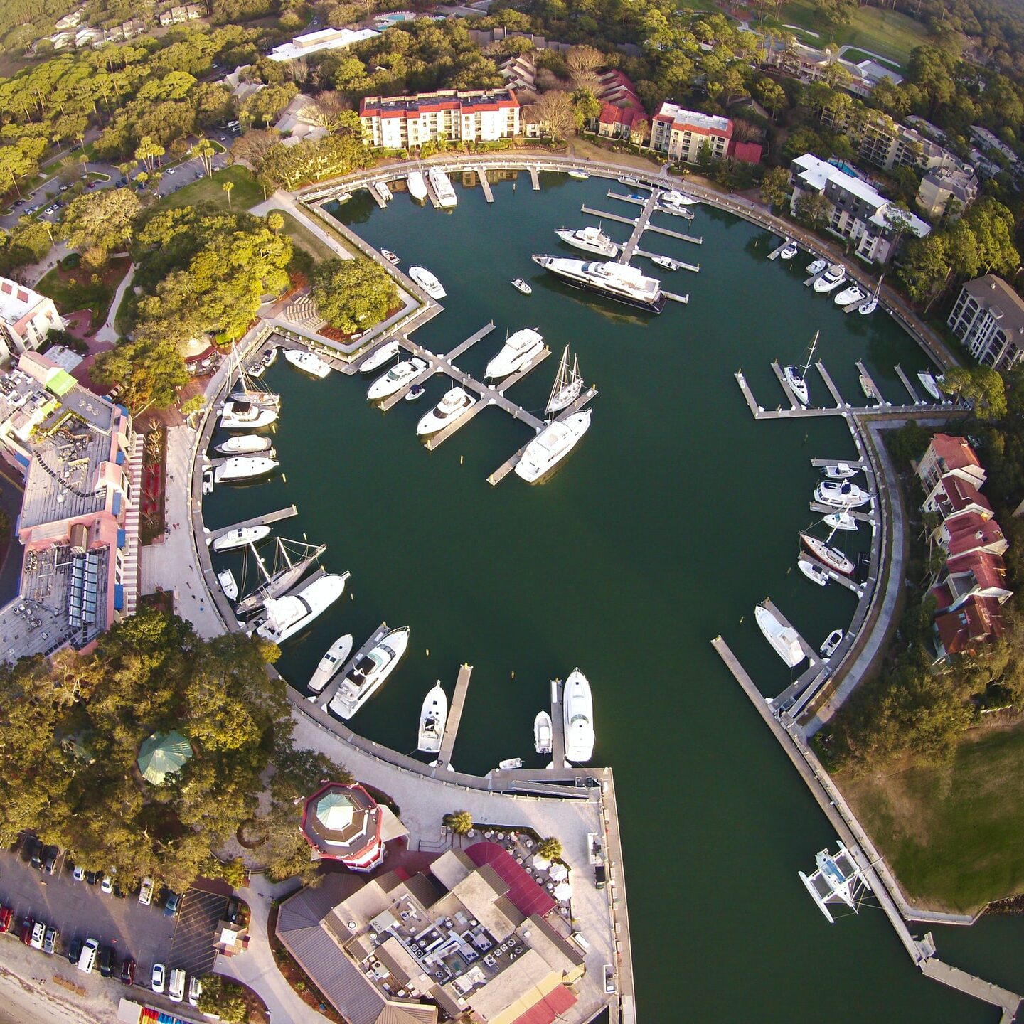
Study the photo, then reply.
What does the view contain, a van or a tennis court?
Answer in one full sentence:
Visible in the photo is a van.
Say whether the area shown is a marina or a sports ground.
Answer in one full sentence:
It's a marina.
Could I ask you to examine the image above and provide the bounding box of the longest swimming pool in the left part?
[377,11,415,29]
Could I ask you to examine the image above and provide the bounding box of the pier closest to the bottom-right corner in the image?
[923,957,1021,1024]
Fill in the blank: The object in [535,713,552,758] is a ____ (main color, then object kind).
white boat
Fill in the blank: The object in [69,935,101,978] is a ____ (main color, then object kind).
white van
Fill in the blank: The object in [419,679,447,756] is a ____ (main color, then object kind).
white boat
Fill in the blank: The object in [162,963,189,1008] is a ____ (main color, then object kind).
white vehicle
